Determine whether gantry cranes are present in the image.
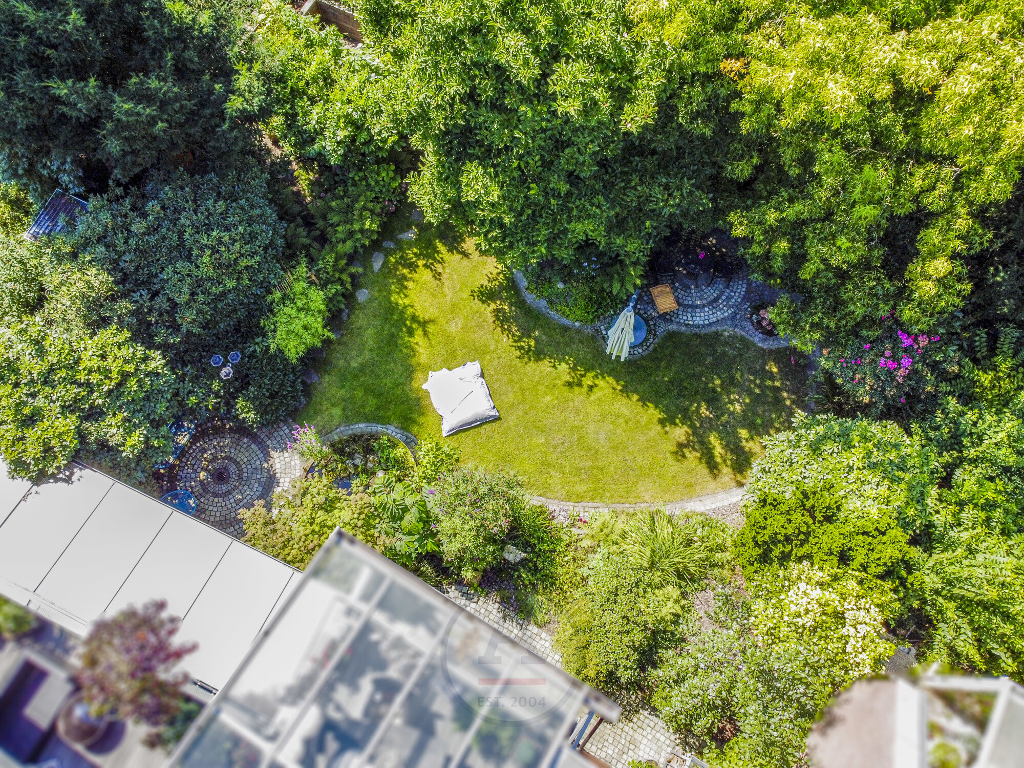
No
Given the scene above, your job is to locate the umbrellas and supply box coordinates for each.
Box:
[606,288,647,361]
